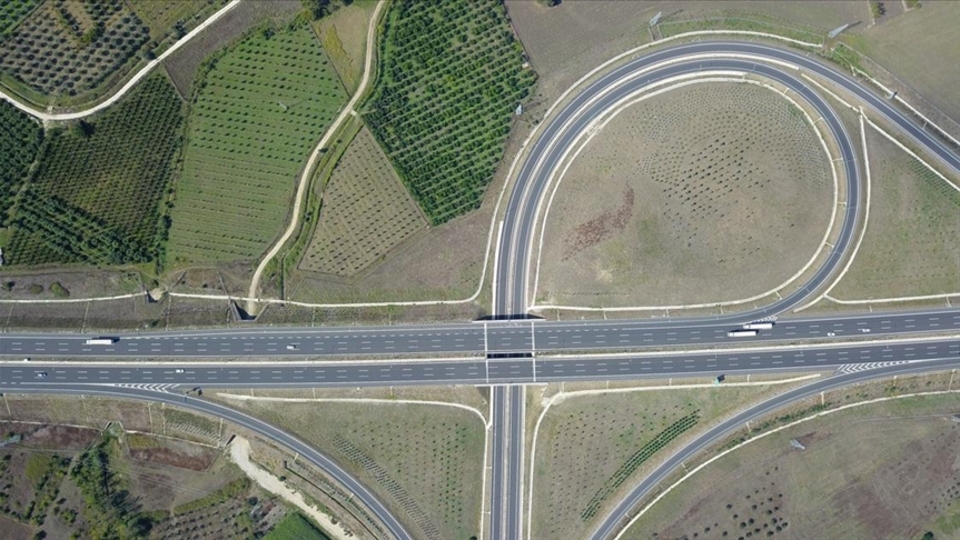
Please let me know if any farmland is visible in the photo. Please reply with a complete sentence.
Yes, farmland shows up in the scene.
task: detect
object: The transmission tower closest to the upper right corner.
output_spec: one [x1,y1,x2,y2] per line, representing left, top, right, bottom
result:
[827,21,856,41]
